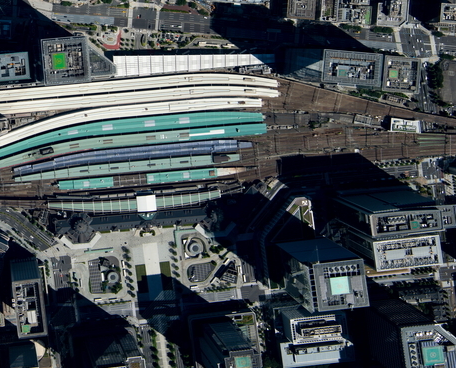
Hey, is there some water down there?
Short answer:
No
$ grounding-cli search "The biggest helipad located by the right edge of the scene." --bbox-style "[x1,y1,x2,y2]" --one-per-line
[423,345,445,366]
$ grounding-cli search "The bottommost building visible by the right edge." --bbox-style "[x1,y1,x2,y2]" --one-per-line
[360,299,456,368]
